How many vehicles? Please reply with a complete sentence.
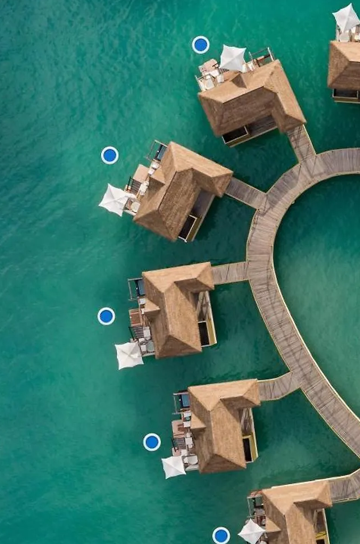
There are no vehicles in the image.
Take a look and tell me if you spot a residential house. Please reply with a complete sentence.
Yes, there's a residential house down there.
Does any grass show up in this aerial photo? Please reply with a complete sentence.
No, the scene doesn't show any grass.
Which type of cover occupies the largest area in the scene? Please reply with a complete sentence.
The scene is dominated by water.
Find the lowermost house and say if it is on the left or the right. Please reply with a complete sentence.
The lowermost house sits on the right side.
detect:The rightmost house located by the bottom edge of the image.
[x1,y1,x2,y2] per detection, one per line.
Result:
[243,476,333,544]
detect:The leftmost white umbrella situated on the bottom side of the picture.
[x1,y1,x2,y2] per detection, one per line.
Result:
[115,341,151,369]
